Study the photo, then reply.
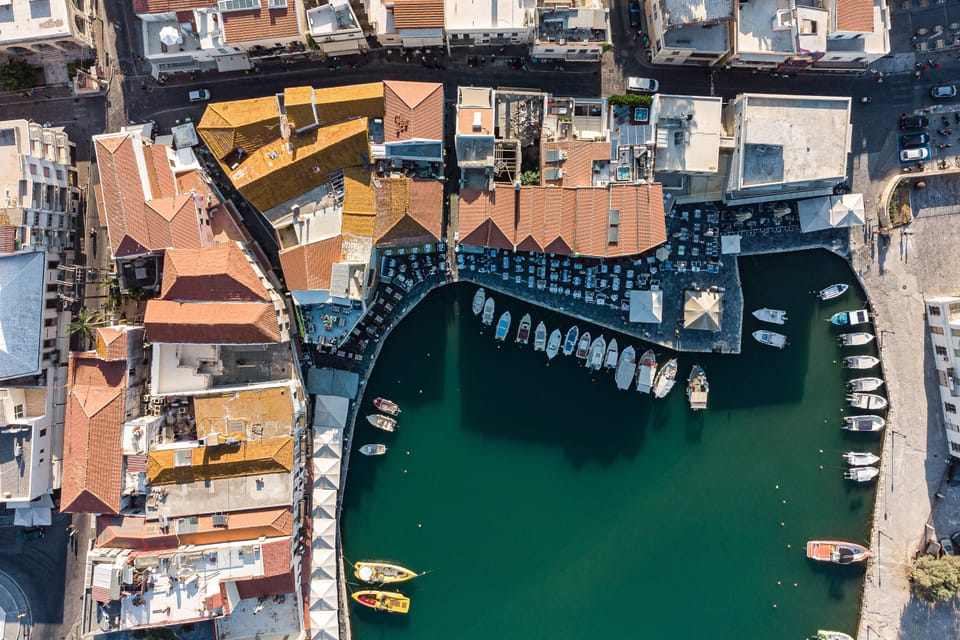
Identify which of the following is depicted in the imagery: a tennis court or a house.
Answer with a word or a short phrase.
house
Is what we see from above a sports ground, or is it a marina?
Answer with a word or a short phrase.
marina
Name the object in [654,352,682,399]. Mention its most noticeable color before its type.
white boat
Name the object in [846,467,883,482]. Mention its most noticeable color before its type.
white boat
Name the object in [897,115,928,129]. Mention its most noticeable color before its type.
black car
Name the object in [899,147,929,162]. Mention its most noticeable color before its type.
white car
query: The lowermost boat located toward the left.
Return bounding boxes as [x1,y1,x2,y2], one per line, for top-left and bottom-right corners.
[348,588,410,613]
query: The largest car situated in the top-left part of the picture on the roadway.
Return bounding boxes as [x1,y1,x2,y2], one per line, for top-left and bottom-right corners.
[186,87,213,103]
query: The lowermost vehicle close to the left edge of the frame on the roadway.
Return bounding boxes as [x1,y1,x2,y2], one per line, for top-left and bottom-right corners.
[17,528,46,543]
